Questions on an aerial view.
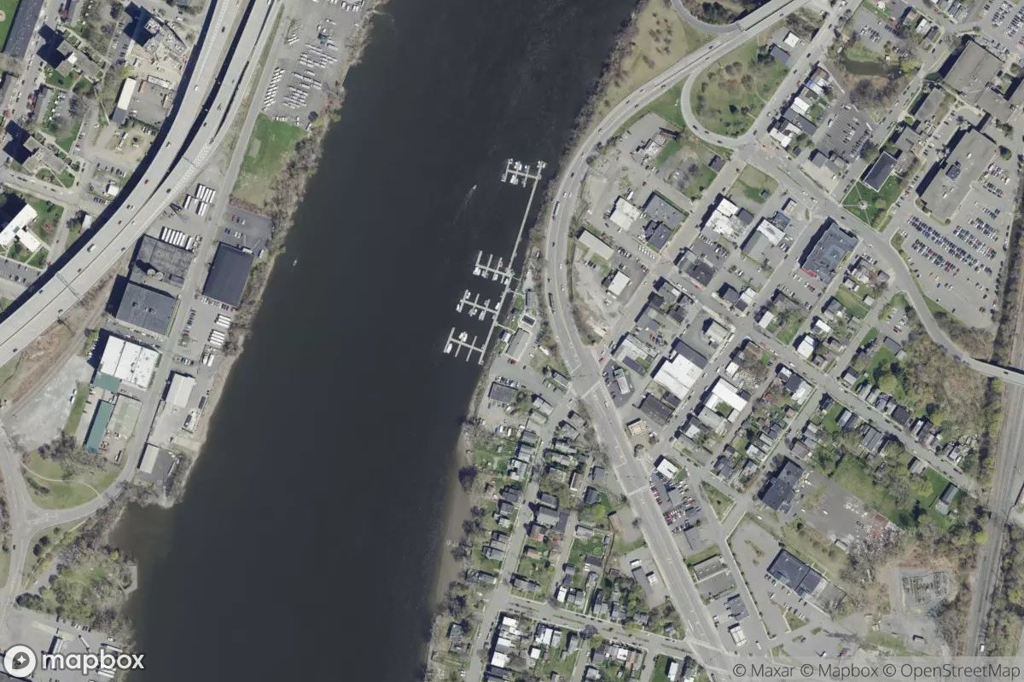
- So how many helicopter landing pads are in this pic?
0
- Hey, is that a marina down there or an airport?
marina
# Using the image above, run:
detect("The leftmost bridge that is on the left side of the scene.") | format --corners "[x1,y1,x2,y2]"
[0,0,246,350]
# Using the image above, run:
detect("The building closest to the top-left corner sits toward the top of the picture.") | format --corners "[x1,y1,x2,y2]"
[4,0,43,55]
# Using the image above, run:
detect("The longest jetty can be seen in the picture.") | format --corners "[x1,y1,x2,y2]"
[480,168,541,359]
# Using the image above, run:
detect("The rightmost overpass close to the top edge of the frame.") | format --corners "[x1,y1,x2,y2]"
[664,0,821,81]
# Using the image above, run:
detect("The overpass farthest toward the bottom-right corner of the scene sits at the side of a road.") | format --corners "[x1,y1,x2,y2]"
[938,334,1024,382]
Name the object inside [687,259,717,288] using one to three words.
building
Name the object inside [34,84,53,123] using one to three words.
house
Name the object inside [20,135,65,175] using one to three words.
building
